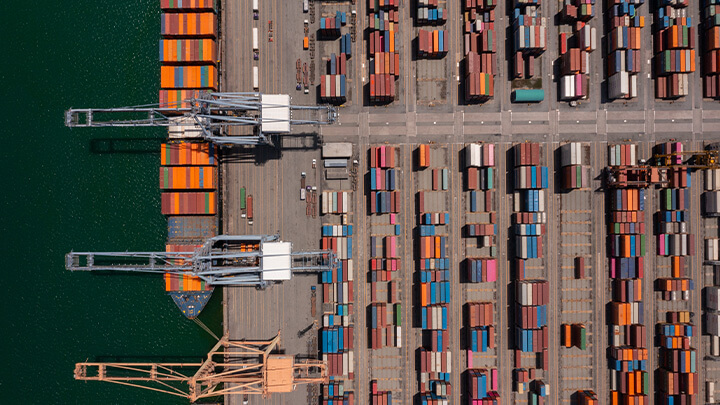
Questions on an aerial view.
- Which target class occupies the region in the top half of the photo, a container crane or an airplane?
container crane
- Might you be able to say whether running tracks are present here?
No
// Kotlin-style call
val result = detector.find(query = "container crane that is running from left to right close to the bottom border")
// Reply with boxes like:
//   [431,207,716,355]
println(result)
[75,326,328,405]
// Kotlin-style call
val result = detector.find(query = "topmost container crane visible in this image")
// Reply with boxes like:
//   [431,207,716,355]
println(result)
[63,92,335,157]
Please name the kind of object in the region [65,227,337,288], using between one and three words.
container crane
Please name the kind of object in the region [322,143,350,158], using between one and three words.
building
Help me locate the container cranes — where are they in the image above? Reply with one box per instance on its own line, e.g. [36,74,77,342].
[65,227,337,288]
[75,326,328,405]
[642,151,720,171]
[598,167,669,187]
[63,92,335,157]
